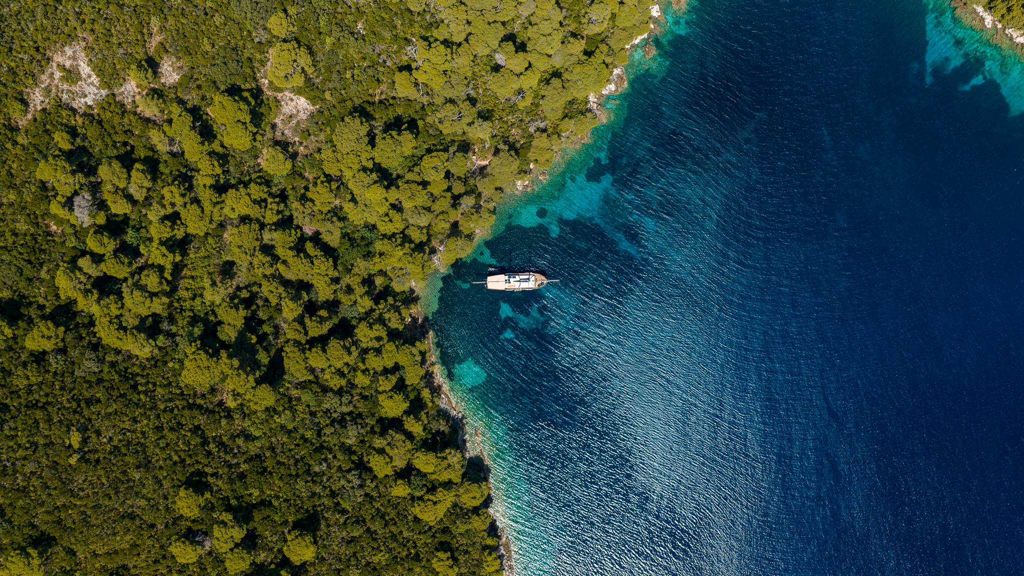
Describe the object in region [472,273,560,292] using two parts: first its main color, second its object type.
white boat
